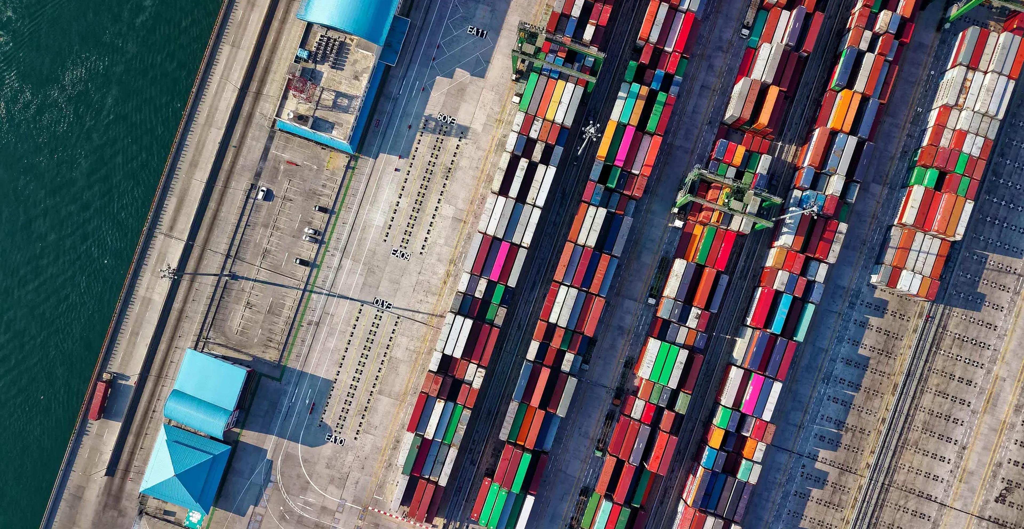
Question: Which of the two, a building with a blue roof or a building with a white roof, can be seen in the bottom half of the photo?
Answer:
building with a blue roof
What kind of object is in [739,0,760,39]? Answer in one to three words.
truck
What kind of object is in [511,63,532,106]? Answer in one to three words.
truck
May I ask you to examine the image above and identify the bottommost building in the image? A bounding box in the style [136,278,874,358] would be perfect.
[139,423,231,515]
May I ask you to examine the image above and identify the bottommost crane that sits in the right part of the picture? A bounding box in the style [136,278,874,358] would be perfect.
[674,165,791,237]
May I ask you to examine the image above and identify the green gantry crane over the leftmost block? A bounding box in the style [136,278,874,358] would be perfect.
[509,23,610,105]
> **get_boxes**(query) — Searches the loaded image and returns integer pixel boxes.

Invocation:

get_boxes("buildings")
[275,13,412,155]
[164,347,257,439]
[139,423,231,515]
